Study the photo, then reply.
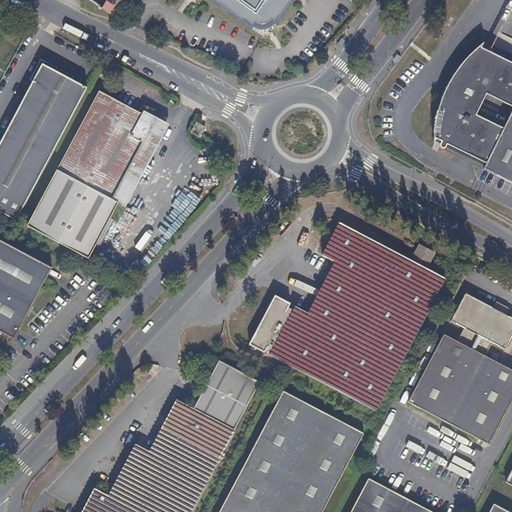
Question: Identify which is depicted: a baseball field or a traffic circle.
traffic circle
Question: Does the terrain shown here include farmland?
No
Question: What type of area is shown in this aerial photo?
industrial area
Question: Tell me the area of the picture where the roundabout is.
top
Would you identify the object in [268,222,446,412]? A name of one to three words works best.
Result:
warehouse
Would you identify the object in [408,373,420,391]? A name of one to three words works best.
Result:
vehicle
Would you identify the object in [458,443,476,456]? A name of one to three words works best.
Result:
vehicle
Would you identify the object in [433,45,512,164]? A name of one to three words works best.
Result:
building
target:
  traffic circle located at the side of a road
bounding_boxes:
[254,86,350,180]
